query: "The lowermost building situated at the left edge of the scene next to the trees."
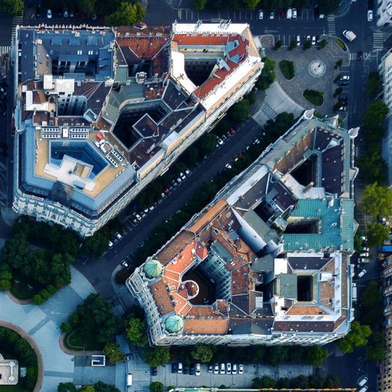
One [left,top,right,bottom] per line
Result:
[14,124,139,235]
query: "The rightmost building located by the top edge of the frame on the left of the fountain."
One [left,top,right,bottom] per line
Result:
[172,18,265,135]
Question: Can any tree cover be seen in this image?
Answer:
Yes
